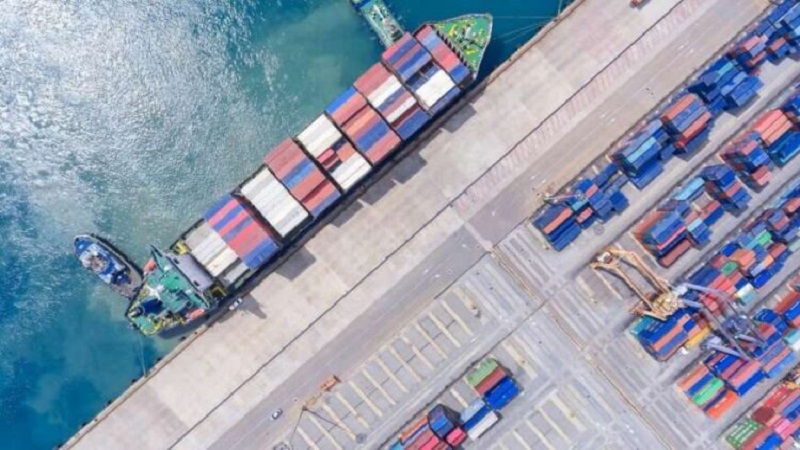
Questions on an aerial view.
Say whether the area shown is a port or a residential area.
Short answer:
port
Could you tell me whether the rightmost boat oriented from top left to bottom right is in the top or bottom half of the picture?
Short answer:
top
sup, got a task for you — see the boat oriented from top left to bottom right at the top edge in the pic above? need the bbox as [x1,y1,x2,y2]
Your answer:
[348,0,408,55]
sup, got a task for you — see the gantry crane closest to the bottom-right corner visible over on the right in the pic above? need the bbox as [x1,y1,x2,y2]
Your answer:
[673,281,772,363]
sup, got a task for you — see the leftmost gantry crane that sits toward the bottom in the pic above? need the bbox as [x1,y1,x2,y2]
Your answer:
[589,246,684,327]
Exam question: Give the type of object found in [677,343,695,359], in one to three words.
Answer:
vehicle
